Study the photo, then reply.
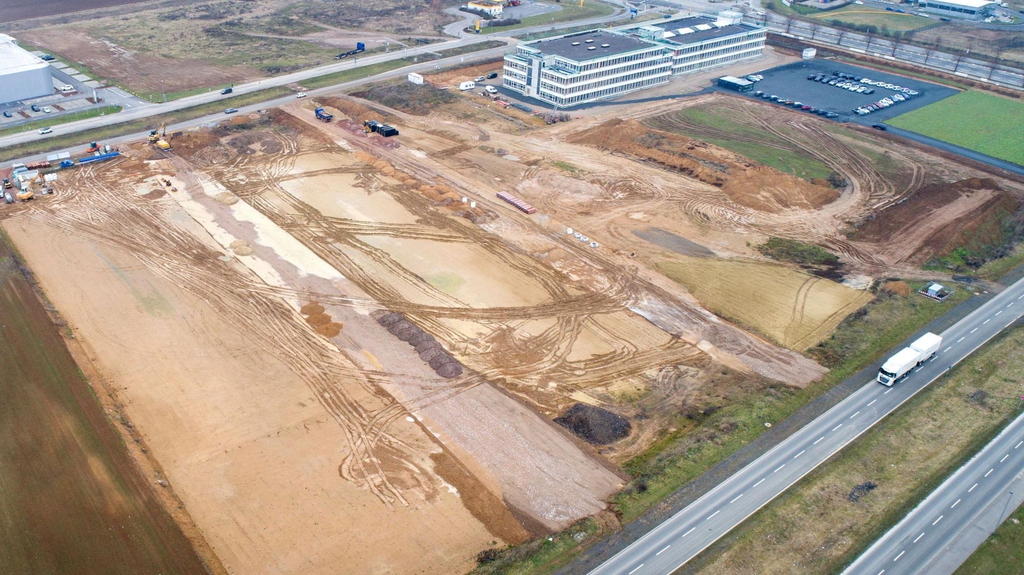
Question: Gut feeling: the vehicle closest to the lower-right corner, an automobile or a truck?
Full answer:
The vehicle closest to the lower-right corner can be classified as a truck.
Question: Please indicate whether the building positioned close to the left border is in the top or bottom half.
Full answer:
You can find the building positioned close to the left border in the top half.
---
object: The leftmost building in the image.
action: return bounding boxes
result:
[0,32,49,98]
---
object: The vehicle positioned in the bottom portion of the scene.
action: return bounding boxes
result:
[881,333,943,384]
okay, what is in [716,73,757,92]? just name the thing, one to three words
building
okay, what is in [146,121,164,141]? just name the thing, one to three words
work vehicle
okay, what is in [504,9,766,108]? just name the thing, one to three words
building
